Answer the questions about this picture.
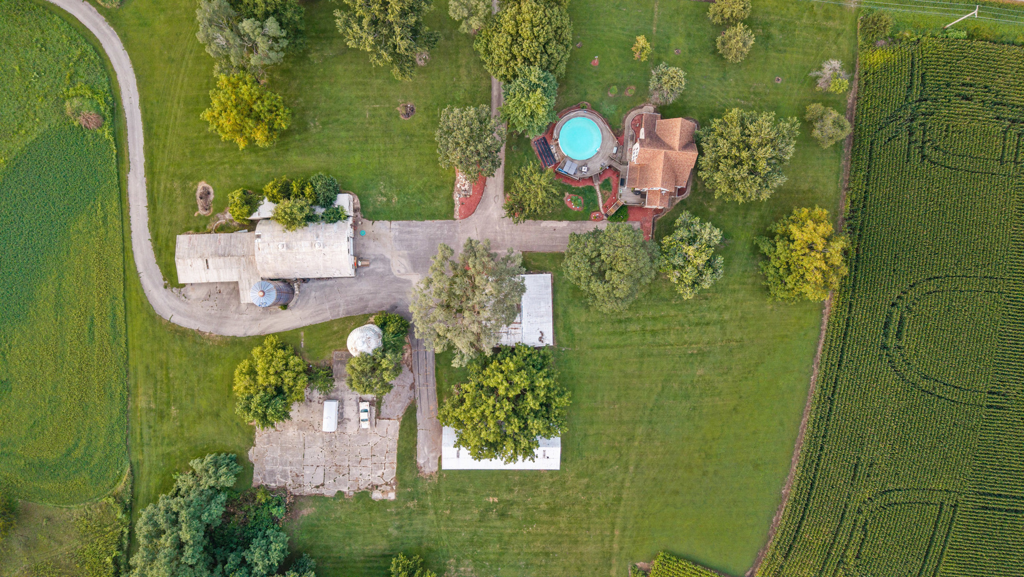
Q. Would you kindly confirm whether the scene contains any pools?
Yes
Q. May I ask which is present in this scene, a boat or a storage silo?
storage silo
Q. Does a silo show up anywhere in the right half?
No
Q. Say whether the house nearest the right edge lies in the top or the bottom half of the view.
top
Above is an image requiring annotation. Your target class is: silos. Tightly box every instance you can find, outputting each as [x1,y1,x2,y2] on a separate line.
[346,325,379,359]
[250,280,294,307]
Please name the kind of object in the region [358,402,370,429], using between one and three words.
vehicle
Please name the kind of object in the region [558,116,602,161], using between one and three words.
swimming pool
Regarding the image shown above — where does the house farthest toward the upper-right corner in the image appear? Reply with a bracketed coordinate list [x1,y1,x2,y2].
[625,112,698,209]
